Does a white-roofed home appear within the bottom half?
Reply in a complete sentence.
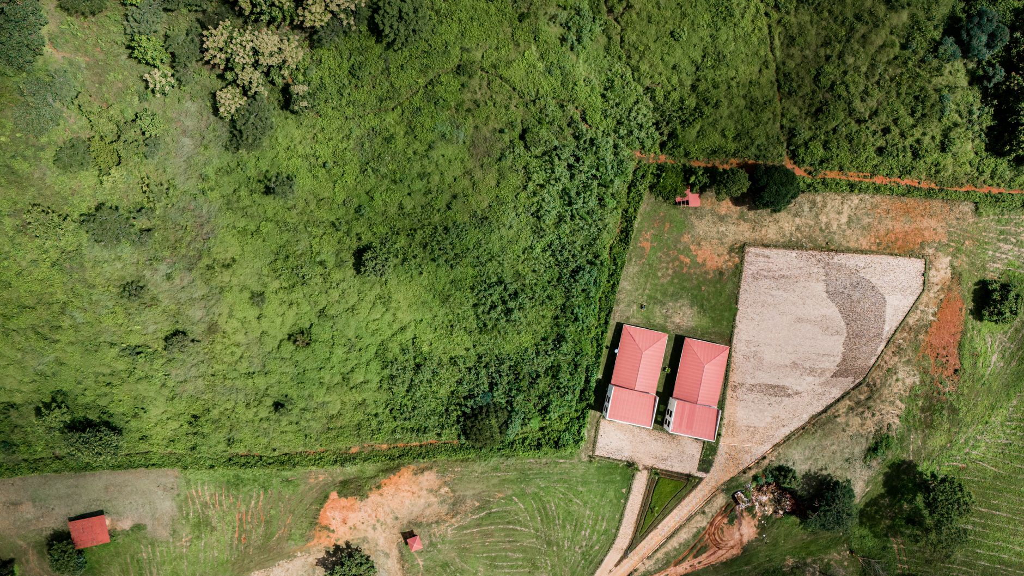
No, there's no white-roofed home to be seen within the bottom half.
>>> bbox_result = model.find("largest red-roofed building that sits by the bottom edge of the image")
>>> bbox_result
[68,512,115,548]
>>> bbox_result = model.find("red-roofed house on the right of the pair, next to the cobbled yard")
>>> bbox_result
[663,337,730,444]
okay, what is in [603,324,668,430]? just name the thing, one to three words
house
